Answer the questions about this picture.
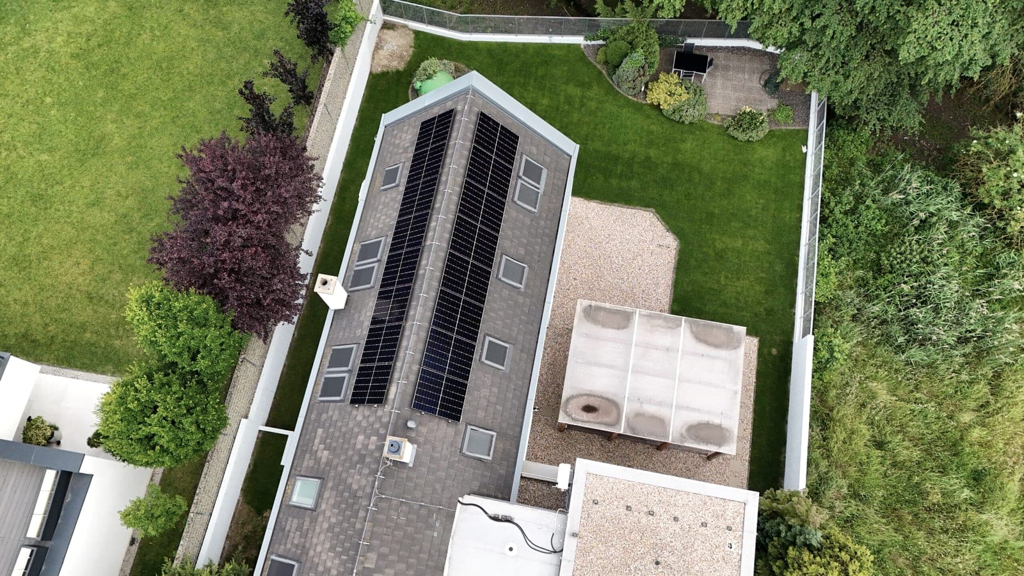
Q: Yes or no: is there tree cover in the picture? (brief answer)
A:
Yes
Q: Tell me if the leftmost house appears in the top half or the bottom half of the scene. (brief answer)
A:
bottom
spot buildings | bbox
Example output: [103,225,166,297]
[255,68,581,576]
[559,458,759,576]
[0,437,153,576]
